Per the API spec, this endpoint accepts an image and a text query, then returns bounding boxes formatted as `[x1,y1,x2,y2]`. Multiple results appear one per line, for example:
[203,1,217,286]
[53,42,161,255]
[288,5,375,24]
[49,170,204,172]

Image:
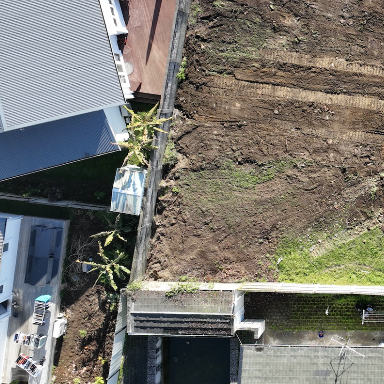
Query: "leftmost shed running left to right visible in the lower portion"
[126,284,244,338]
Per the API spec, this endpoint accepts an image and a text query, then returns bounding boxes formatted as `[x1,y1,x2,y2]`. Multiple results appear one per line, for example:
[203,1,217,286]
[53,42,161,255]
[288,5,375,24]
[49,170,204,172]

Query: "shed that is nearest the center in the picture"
[110,167,145,214]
